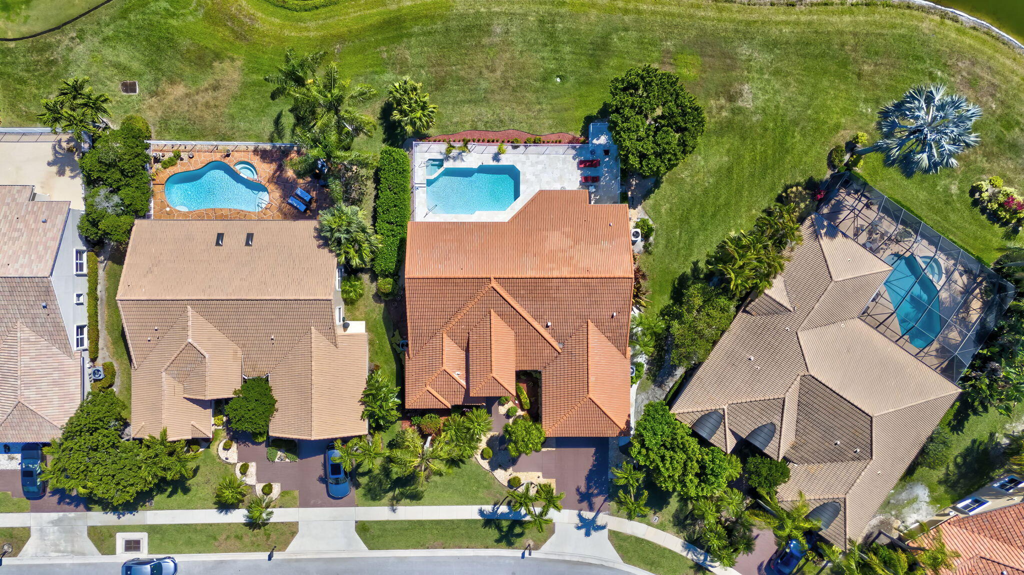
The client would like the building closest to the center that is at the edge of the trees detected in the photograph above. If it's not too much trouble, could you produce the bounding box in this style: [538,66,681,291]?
[404,190,634,438]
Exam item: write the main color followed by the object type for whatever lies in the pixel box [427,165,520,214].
blue swimming pool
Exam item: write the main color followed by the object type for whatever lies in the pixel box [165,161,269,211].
blue swimming pool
